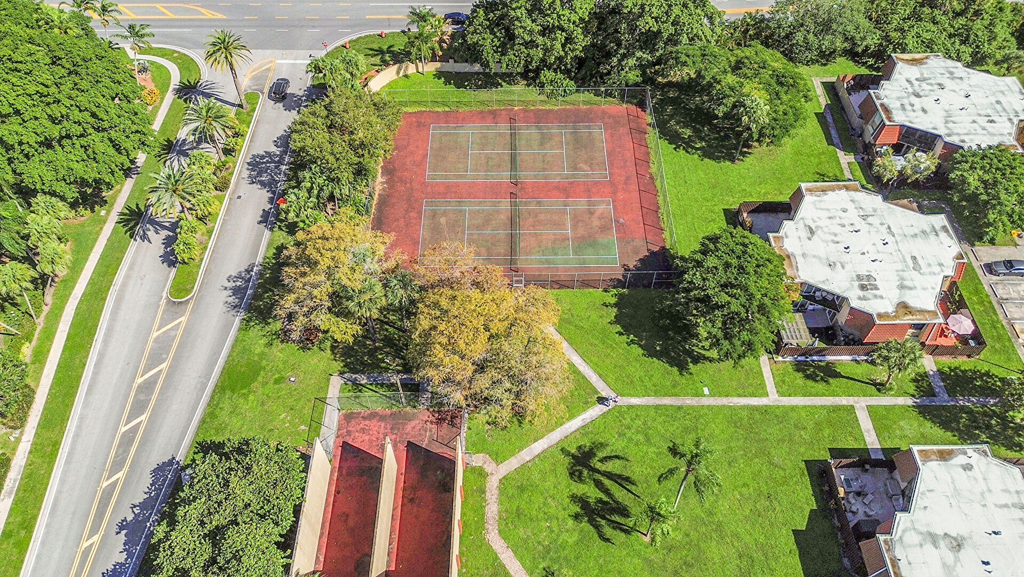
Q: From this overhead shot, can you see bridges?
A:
No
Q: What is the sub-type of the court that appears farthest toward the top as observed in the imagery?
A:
tennis court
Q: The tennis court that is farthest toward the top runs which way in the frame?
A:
from left to right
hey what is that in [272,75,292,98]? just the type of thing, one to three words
car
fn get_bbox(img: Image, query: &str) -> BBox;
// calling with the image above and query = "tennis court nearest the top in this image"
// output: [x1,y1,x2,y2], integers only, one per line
[426,124,609,181]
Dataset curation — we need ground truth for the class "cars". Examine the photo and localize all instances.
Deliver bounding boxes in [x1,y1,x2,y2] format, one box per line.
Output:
[272,75,292,98]
[444,14,472,27]
[987,258,1024,276]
